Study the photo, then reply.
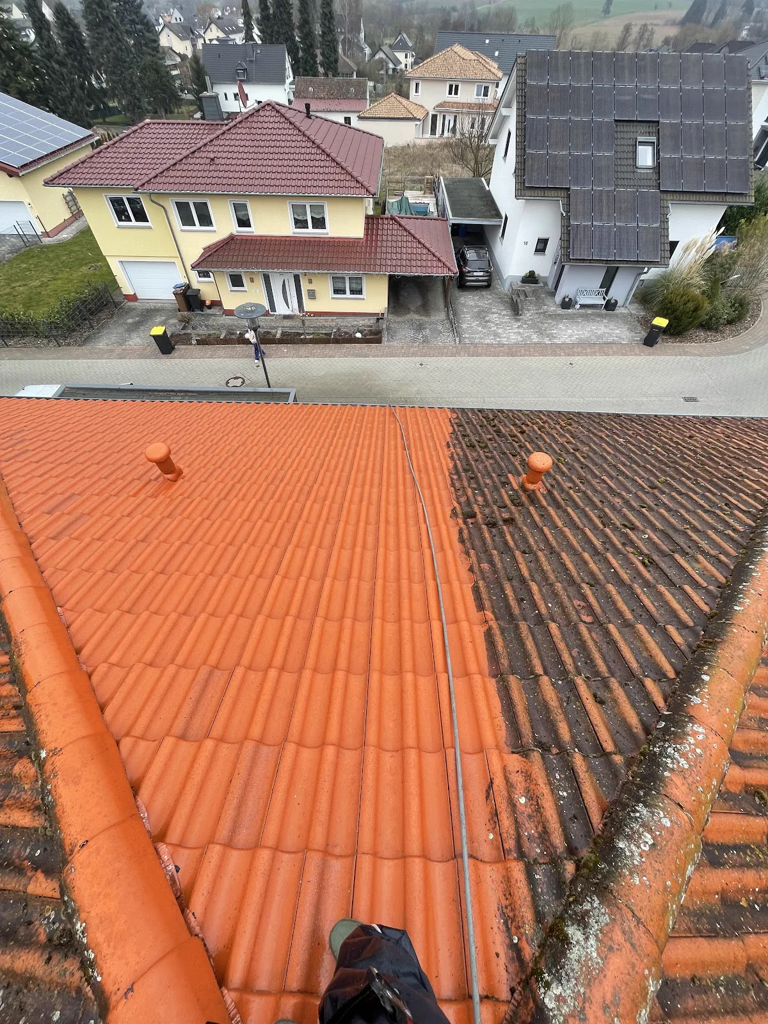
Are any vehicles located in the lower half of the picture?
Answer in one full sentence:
No, I see no vehicle in the lower half of the picture.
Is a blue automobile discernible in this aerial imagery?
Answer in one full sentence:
No, I find no blue automobile anywhere in the image.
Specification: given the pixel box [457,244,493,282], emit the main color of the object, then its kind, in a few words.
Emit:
gray car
